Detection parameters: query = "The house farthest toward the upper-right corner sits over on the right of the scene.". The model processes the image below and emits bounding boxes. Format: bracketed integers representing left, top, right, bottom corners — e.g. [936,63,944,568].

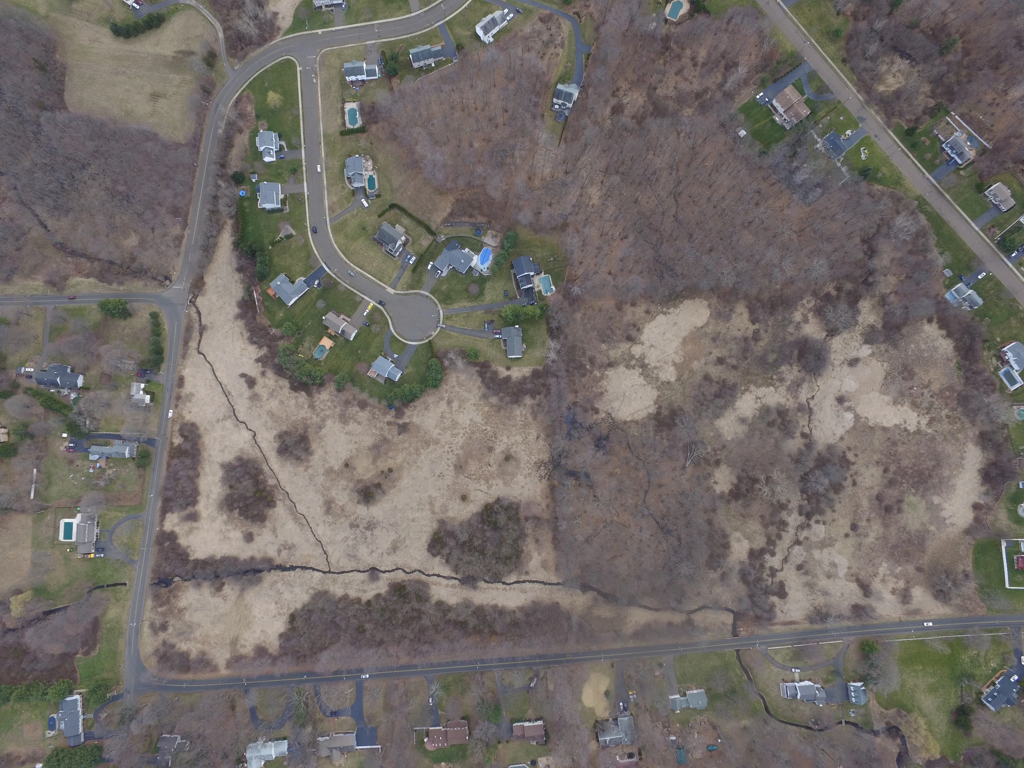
[938,131,978,166]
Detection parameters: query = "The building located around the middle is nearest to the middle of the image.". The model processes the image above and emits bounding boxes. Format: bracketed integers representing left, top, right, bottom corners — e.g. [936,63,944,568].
[502,325,522,356]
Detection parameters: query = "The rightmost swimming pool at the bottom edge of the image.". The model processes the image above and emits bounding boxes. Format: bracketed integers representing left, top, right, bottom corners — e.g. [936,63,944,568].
[616,750,637,762]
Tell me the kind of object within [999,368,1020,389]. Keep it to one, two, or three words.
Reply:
swimming pool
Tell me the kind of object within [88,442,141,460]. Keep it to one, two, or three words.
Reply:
house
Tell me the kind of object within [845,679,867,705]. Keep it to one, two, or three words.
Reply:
building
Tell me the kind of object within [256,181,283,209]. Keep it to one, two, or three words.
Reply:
house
